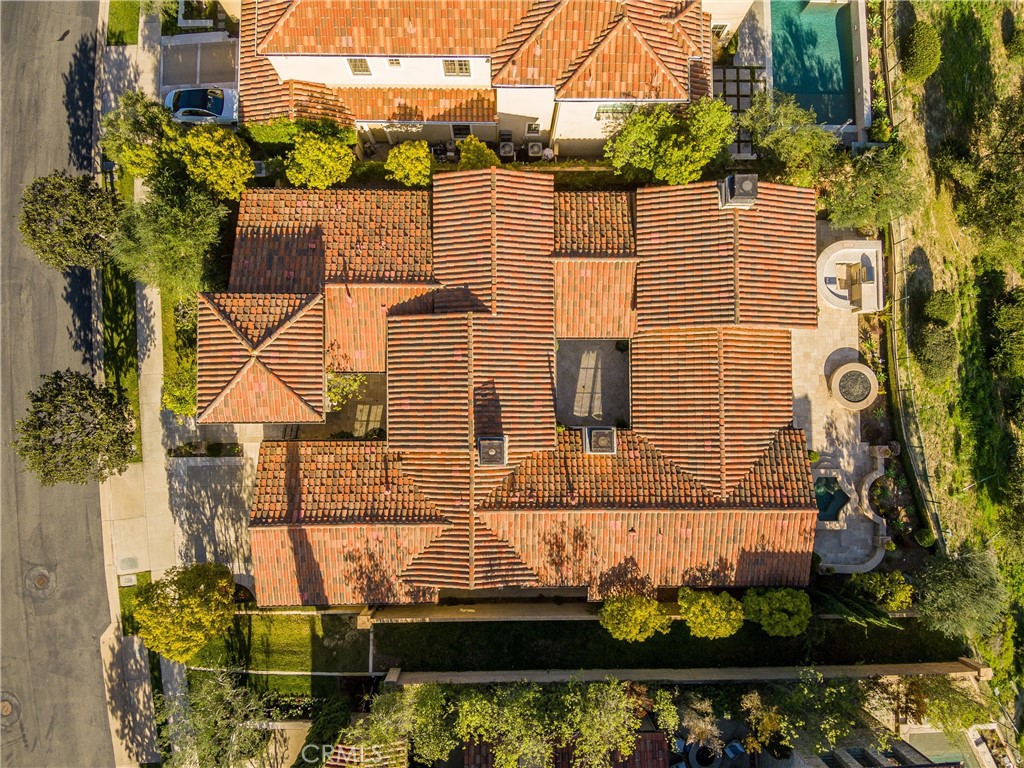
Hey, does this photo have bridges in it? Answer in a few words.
No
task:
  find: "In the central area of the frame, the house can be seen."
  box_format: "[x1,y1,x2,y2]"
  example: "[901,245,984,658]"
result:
[195,168,818,608]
